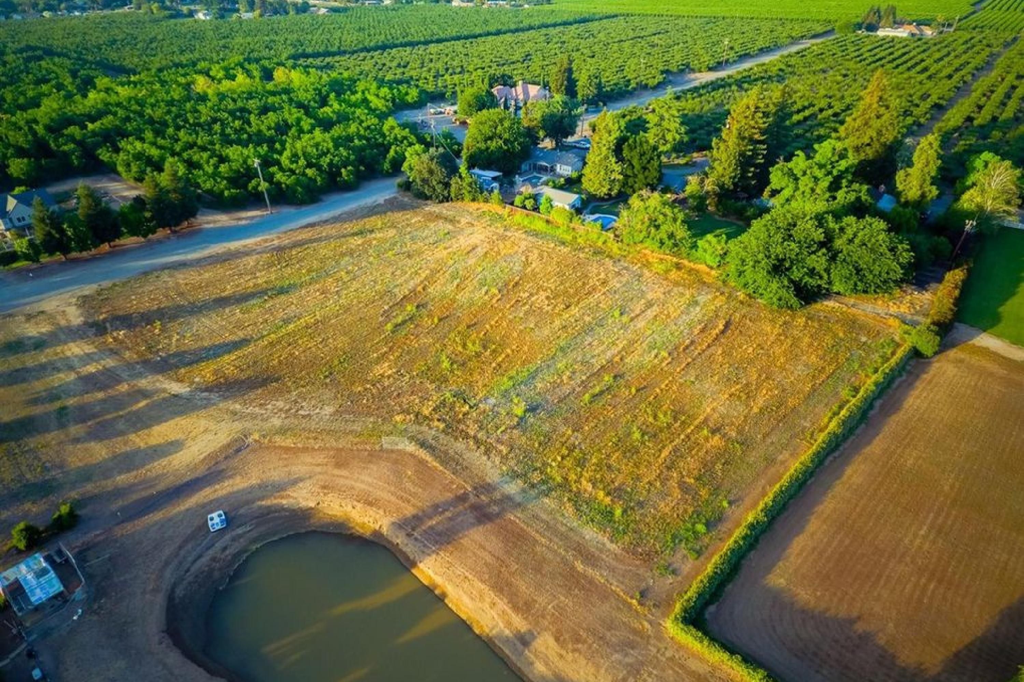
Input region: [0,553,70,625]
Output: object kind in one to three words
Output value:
shed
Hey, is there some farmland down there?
Yes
